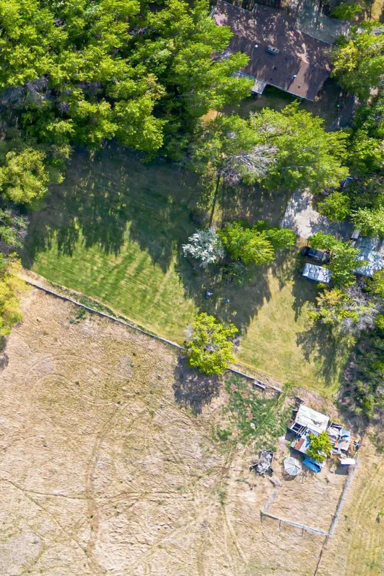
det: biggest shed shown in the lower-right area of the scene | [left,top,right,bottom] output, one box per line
[288,402,329,461]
